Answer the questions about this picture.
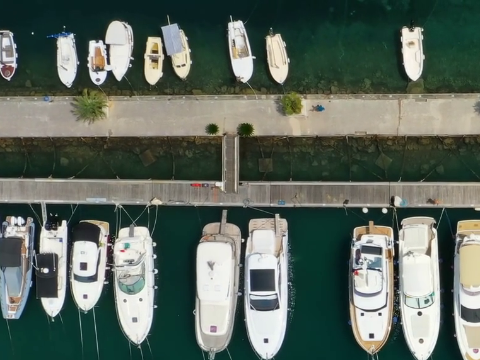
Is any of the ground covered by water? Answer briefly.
Yes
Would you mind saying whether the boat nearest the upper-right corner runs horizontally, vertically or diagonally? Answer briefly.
vertically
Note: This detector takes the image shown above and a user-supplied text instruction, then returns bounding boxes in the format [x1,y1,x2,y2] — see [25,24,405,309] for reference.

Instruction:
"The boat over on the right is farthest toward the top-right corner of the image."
[400,19,426,81]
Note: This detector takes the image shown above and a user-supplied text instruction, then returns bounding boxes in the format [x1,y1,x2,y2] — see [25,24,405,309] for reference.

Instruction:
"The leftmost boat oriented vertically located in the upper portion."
[0,33,20,81]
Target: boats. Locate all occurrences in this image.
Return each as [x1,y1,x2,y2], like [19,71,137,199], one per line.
[0,33,20,81]
[450,220,480,360]
[33,205,70,321]
[244,214,291,360]
[69,221,112,316]
[112,225,157,349]
[395,217,443,360]
[262,25,291,85]
[226,15,257,84]
[161,14,193,81]
[39,25,80,90]
[105,21,136,83]
[346,221,397,360]
[142,37,167,86]
[192,210,245,358]
[0,214,35,319]
[400,19,426,81]
[84,40,109,85]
